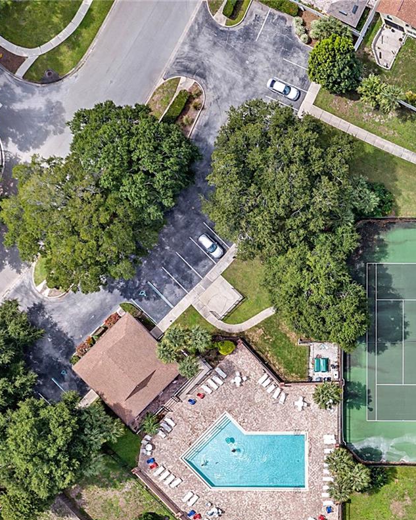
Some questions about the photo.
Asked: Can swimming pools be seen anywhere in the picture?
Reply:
Yes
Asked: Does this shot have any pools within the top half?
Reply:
No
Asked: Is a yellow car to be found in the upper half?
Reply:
No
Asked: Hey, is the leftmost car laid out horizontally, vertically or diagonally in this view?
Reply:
diagonally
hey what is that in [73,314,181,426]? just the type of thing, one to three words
building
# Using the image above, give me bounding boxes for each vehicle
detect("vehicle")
[268,78,300,102]
[197,233,224,259]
